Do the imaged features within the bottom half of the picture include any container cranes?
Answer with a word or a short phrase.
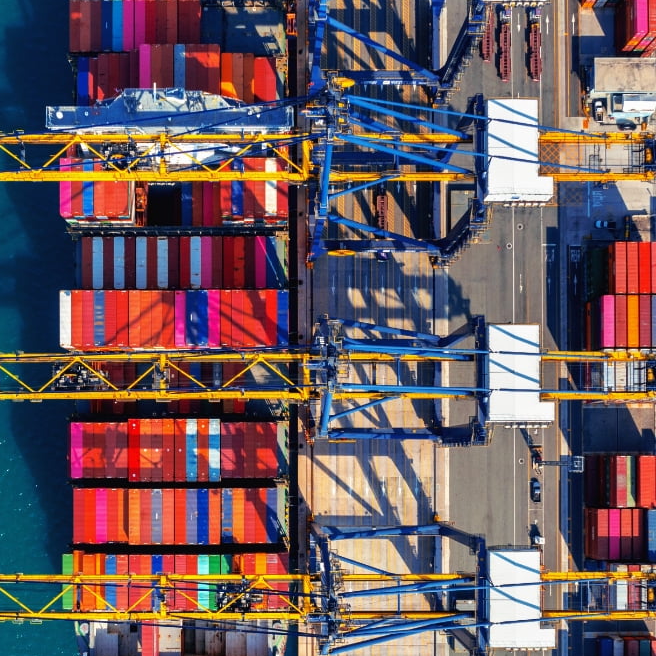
Yes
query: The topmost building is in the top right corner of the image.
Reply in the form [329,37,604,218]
[592,58,656,96]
